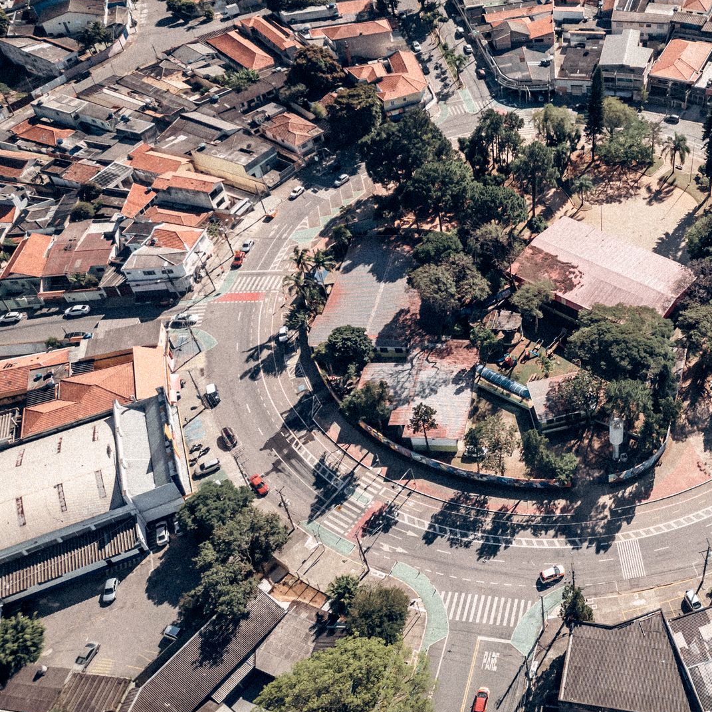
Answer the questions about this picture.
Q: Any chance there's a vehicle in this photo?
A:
Yes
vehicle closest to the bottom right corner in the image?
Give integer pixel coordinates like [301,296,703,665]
[681,579,706,614]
